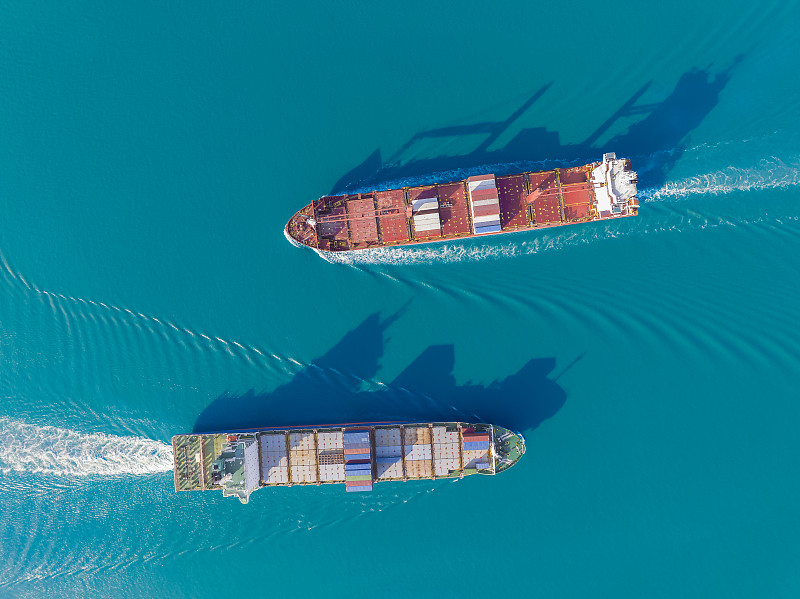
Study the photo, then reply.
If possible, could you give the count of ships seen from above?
2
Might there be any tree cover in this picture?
No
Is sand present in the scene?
No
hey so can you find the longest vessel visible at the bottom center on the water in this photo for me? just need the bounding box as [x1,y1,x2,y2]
[170,419,527,505]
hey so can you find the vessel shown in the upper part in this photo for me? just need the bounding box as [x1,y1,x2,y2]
[284,151,642,251]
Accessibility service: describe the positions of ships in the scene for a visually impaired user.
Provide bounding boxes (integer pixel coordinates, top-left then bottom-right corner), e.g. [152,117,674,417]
[170,419,527,505]
[284,151,642,251]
